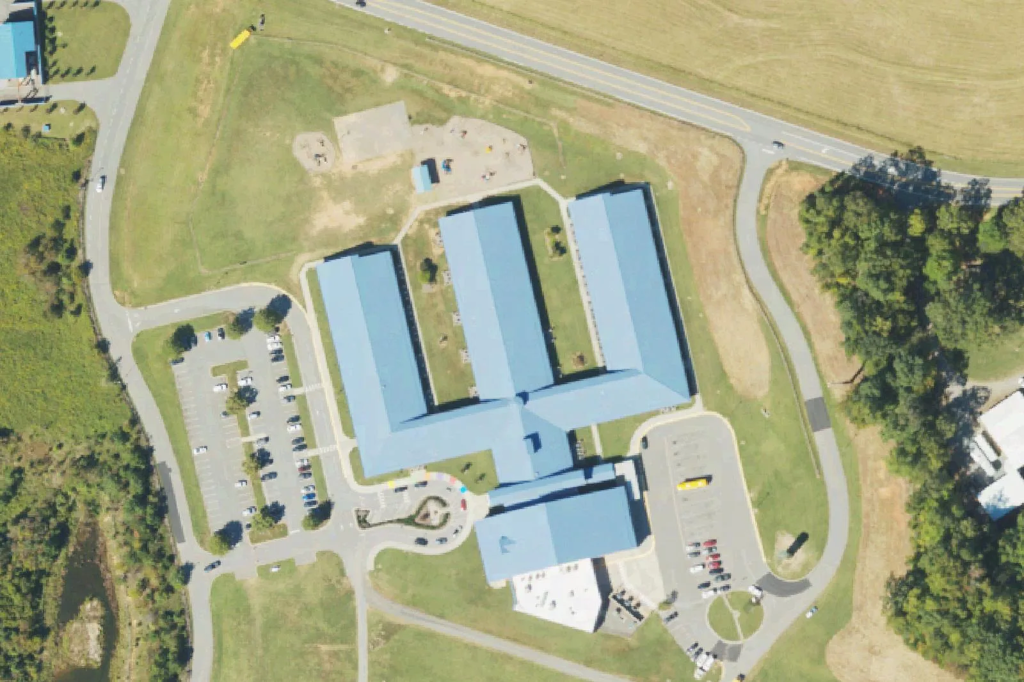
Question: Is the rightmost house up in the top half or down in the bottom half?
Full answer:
The rightmost house sits in the bottom half of the picture.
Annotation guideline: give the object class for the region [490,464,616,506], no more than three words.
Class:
building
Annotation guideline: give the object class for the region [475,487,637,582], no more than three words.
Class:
building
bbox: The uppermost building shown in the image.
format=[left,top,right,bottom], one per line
[0,21,35,78]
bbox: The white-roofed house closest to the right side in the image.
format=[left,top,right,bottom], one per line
[969,391,1024,519]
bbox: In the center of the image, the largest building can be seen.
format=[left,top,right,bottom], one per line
[316,189,692,484]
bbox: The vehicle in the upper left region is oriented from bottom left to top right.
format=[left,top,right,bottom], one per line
[229,29,252,48]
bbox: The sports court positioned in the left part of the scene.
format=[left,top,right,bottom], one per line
[334,100,411,170]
